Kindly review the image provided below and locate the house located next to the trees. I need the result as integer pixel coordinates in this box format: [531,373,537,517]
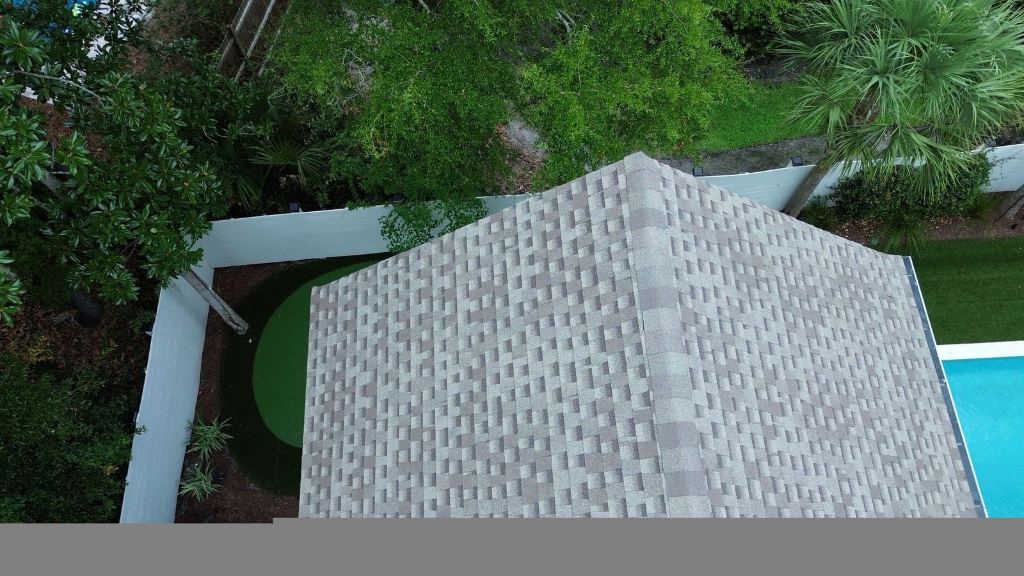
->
[296,155,1015,576]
